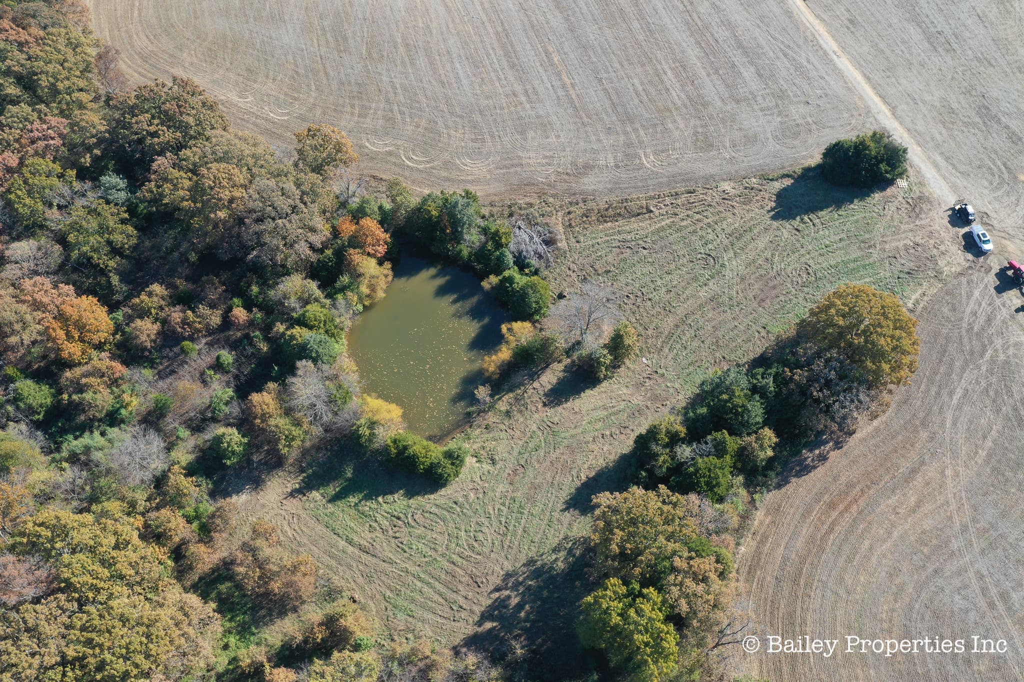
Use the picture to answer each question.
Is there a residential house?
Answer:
No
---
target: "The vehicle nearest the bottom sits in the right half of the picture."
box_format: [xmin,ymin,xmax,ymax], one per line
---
[999,259,1024,282]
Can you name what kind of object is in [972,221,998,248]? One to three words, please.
truck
